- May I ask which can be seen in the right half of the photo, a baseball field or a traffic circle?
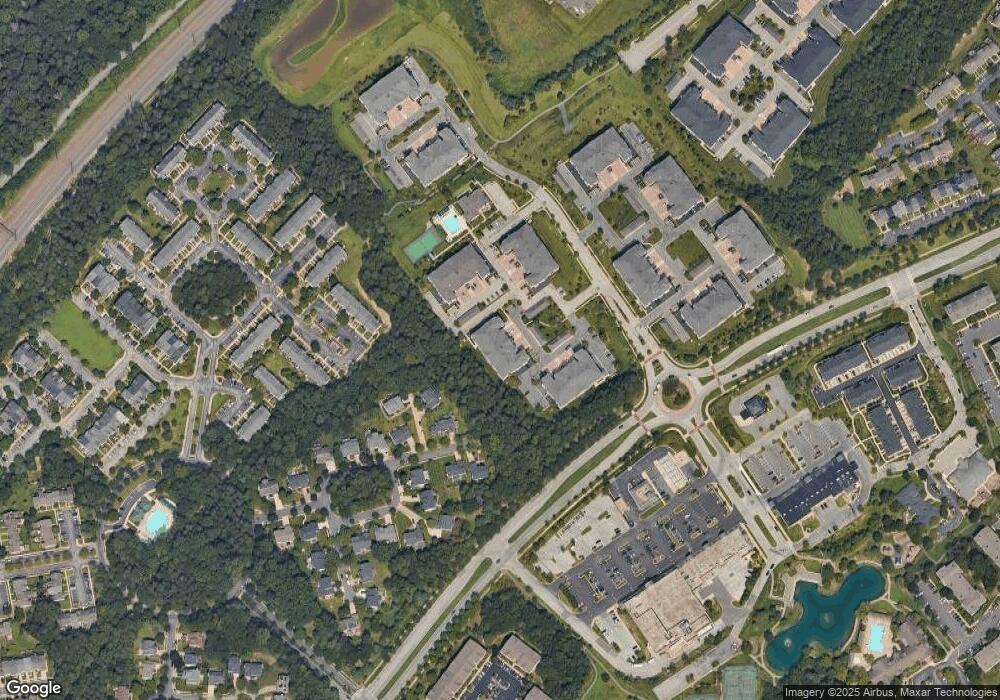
traffic circle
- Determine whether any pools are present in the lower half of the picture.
Yes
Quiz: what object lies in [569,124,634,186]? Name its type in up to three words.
building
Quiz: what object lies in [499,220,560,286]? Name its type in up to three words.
building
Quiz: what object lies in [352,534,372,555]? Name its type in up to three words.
house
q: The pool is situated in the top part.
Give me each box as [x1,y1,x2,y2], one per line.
[433,206,468,242]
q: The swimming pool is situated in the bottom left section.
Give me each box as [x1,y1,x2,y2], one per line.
[135,497,176,545]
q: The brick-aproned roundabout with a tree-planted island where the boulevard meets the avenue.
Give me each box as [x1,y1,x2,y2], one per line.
[642,359,714,425]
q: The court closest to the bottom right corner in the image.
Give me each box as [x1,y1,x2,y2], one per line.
[722,667,757,700]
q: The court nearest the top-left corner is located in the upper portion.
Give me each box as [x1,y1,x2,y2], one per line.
[403,229,442,264]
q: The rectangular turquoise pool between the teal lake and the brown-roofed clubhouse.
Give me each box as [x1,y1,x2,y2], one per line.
[859,614,894,662]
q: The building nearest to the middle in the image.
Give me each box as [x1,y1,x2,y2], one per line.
[469,312,530,380]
